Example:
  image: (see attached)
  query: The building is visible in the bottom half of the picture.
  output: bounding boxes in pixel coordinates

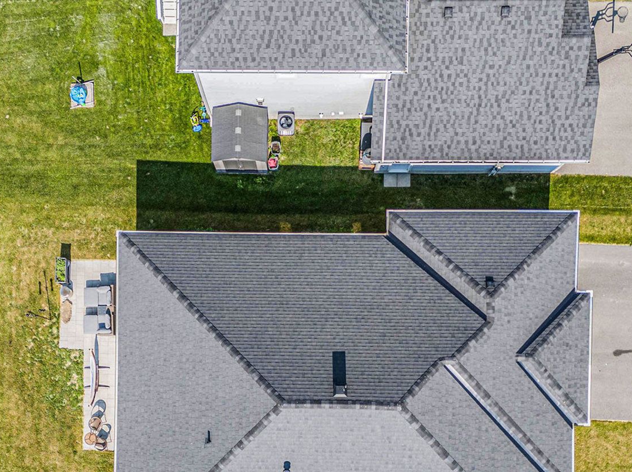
[113,209,592,472]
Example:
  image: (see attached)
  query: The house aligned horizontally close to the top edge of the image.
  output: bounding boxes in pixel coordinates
[176,0,601,178]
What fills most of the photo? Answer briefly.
buildings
